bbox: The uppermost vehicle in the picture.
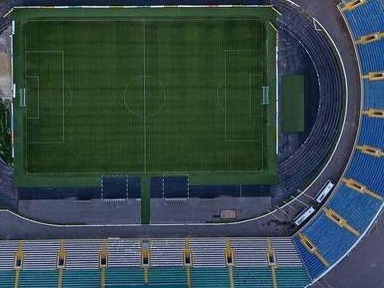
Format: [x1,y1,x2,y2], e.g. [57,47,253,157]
[311,179,334,204]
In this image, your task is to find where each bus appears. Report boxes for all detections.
[291,204,317,227]
[311,179,334,204]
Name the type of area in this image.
sports ground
